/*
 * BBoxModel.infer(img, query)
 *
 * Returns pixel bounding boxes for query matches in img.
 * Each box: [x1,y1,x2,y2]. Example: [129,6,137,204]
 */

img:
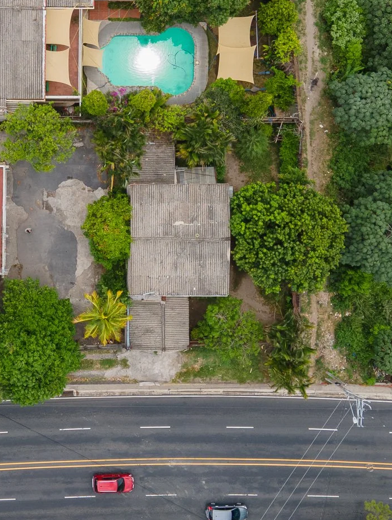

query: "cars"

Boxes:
[92,471,133,494]
[206,500,246,520]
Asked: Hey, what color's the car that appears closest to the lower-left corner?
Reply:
red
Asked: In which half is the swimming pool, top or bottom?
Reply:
top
